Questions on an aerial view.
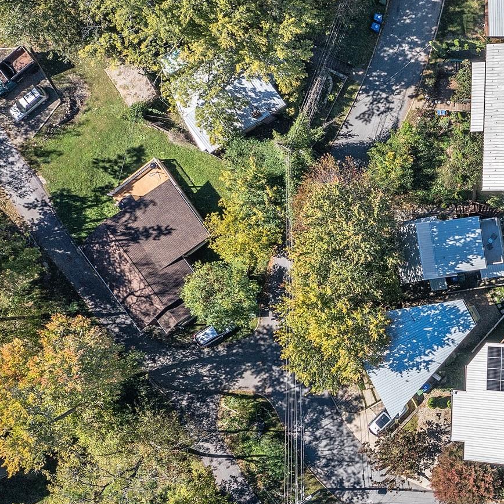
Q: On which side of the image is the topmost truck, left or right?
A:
left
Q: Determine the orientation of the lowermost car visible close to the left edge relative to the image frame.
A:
at an angle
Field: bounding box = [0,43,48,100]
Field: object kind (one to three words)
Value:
truck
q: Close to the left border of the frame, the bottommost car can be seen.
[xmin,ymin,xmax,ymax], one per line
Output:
[6,85,55,123]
